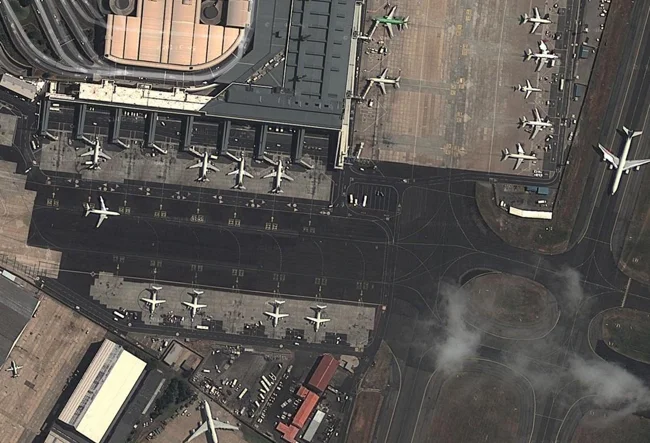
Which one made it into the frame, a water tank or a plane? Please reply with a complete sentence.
Of the two, only a plane appears.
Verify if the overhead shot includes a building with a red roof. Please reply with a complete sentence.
Yes, there's a building with a red roof down there.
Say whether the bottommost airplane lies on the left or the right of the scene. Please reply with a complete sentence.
The bottommost airplane appears in the left half of the scene.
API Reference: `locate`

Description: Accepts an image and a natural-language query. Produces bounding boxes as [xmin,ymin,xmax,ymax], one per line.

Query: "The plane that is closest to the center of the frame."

[263,161,292,192]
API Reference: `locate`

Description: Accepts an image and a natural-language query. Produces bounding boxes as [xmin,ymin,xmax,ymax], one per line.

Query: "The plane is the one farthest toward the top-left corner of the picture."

[80,136,112,169]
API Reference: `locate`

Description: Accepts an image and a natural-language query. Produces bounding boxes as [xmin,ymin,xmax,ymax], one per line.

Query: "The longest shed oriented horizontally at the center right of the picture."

[509,207,553,219]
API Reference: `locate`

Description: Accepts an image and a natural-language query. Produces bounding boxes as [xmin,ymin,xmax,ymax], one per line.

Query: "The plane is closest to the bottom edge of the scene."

[189,400,240,443]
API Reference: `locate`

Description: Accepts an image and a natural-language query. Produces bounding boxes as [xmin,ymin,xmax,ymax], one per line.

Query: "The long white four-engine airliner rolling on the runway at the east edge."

[597,129,650,195]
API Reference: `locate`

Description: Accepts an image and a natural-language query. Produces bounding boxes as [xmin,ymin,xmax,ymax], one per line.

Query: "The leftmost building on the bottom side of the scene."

[0,274,39,369]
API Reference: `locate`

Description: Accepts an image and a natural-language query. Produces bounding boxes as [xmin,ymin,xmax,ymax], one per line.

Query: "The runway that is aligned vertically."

[571,0,650,261]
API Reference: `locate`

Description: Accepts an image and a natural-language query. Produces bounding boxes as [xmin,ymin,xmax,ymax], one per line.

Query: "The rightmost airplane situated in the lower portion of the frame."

[307,304,331,332]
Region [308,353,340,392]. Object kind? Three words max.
building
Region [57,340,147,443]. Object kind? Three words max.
hangar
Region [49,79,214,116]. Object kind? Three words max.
building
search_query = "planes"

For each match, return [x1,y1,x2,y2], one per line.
[80,136,112,169]
[265,300,290,327]
[514,79,543,100]
[521,7,552,33]
[501,142,536,168]
[307,304,331,332]
[142,286,167,314]
[226,157,254,189]
[597,129,650,195]
[373,6,409,36]
[368,67,400,93]
[519,108,553,139]
[525,40,560,70]
[189,400,240,443]
[189,152,220,181]
[184,289,209,317]
[86,196,120,228]
[263,161,292,192]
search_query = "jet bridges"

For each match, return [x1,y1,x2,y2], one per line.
[43,131,59,141]
[361,80,373,100]
[150,142,168,153]
[116,139,133,150]
[368,22,379,40]
[224,151,241,162]
[187,147,204,157]
[299,159,315,169]
[262,157,279,167]
[80,135,96,145]
[357,141,365,159]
